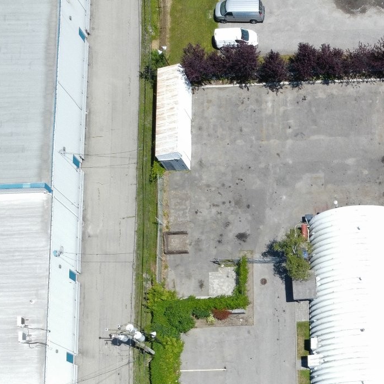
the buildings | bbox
[156,64,188,169]
[293,200,384,384]
[0,0,92,384]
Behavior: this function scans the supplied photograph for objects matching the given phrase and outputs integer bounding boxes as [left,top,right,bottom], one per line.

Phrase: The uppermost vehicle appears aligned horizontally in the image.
[214,0,267,23]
